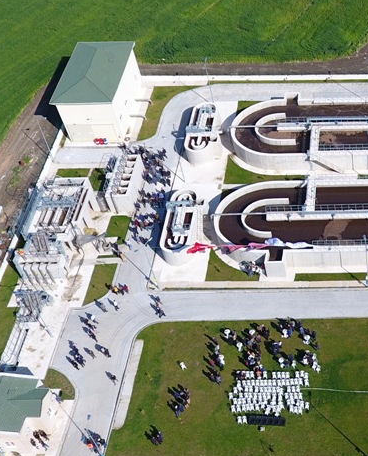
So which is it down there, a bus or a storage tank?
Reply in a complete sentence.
This aerial view contains a storage tank.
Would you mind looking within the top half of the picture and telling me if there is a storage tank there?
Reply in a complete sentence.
Yes, within the top half of the picture there is a storage tank.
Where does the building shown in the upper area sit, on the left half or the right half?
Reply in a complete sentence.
The building shown in the upper area appears in the left half of the scene.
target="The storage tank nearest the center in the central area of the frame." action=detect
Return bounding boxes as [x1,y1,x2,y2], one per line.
[158,188,218,263]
